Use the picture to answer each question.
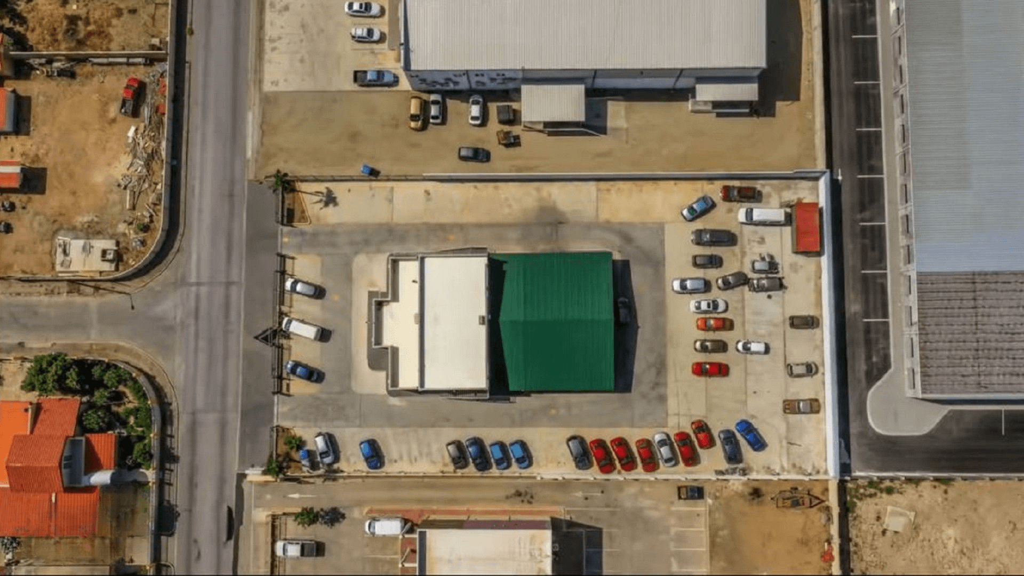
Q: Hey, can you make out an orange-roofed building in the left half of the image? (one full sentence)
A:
Yes, the scene does show an orange-roofed building in the left half of the image.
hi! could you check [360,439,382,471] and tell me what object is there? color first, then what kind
blue car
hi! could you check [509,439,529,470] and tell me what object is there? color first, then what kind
blue car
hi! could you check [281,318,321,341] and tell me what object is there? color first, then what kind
white vehicle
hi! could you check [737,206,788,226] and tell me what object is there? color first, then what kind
white vehicle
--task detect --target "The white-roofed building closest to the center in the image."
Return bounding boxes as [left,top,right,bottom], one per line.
[372,254,493,390]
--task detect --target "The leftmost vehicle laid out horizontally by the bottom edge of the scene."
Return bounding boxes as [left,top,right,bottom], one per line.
[276,540,317,559]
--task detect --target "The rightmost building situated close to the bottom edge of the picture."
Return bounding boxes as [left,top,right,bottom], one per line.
[417,513,552,576]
